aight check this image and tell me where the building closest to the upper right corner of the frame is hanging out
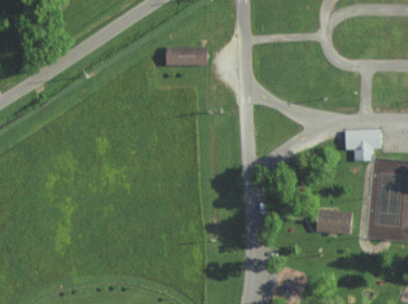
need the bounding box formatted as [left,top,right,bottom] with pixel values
[344,130,382,162]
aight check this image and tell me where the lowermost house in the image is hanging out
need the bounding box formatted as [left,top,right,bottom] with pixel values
[316,208,352,236]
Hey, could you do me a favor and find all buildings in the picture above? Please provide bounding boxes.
[316,208,352,236]
[344,130,382,162]
[166,46,208,67]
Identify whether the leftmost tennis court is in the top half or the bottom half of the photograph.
bottom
